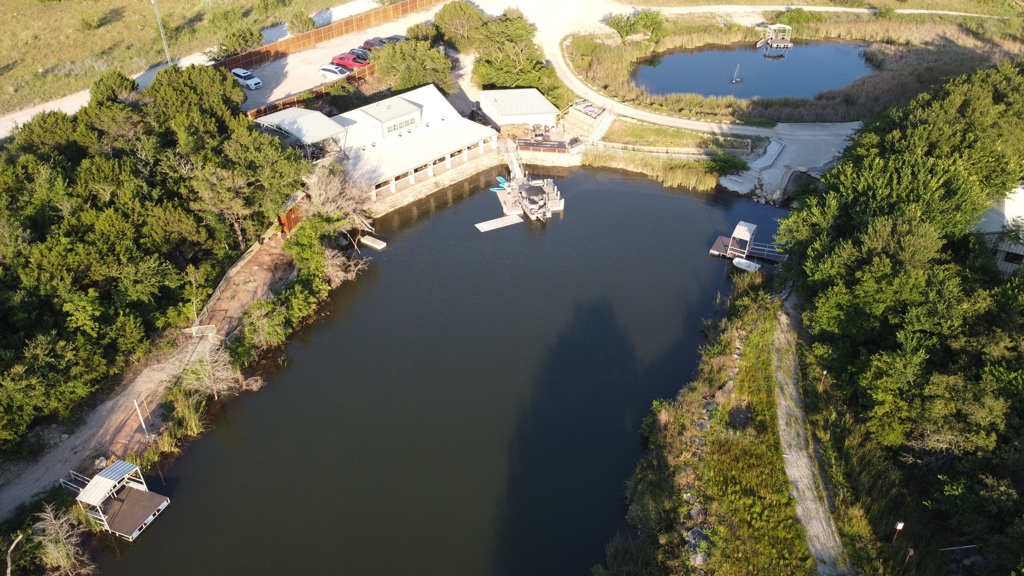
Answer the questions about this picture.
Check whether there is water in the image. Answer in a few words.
Yes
